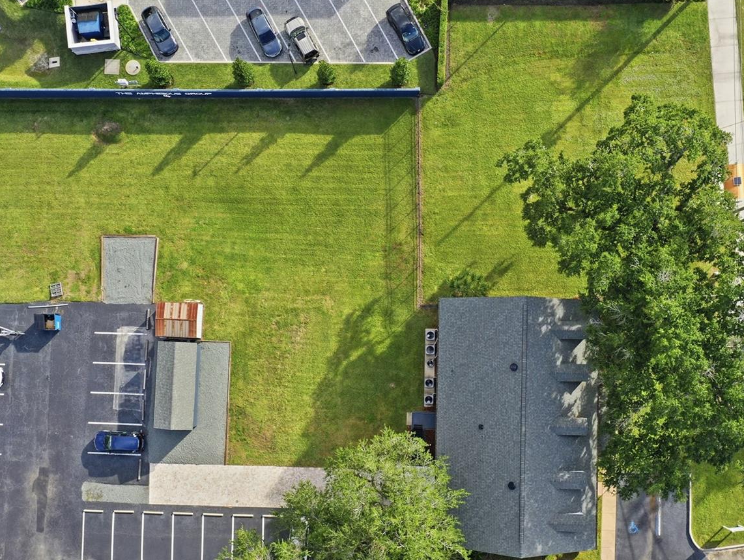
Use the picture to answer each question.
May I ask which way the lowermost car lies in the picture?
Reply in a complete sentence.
Seen from above, the lowermost car lies from side to side.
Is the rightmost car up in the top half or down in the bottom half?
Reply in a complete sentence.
Seen from above, the rightmost car lies in the top half of the view.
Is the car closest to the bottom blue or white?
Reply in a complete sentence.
From above, the car closest to the bottom appears blue.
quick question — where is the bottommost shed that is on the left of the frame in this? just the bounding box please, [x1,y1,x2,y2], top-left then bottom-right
[153,342,204,436]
